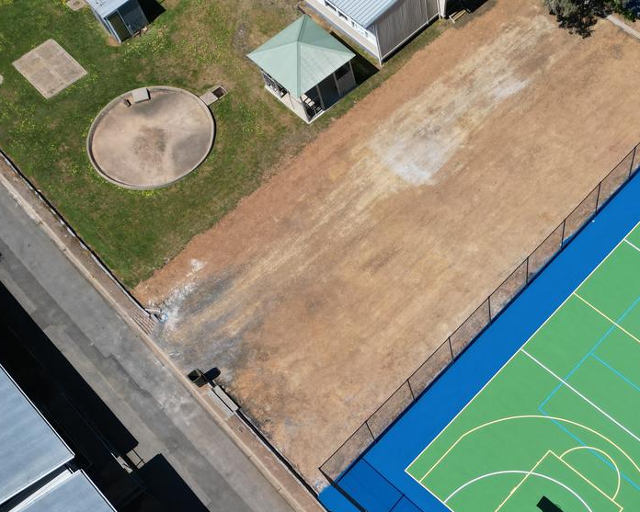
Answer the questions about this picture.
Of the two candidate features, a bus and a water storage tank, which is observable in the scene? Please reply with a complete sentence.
Of the two, only a water storage tank appears.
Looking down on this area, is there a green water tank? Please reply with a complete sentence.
No, this view has no green water tank in it.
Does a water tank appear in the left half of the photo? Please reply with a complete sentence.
Yes, a water tank is visible in the left half of the photo.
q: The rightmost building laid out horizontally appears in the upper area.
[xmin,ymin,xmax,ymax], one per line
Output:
[304,0,446,64]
